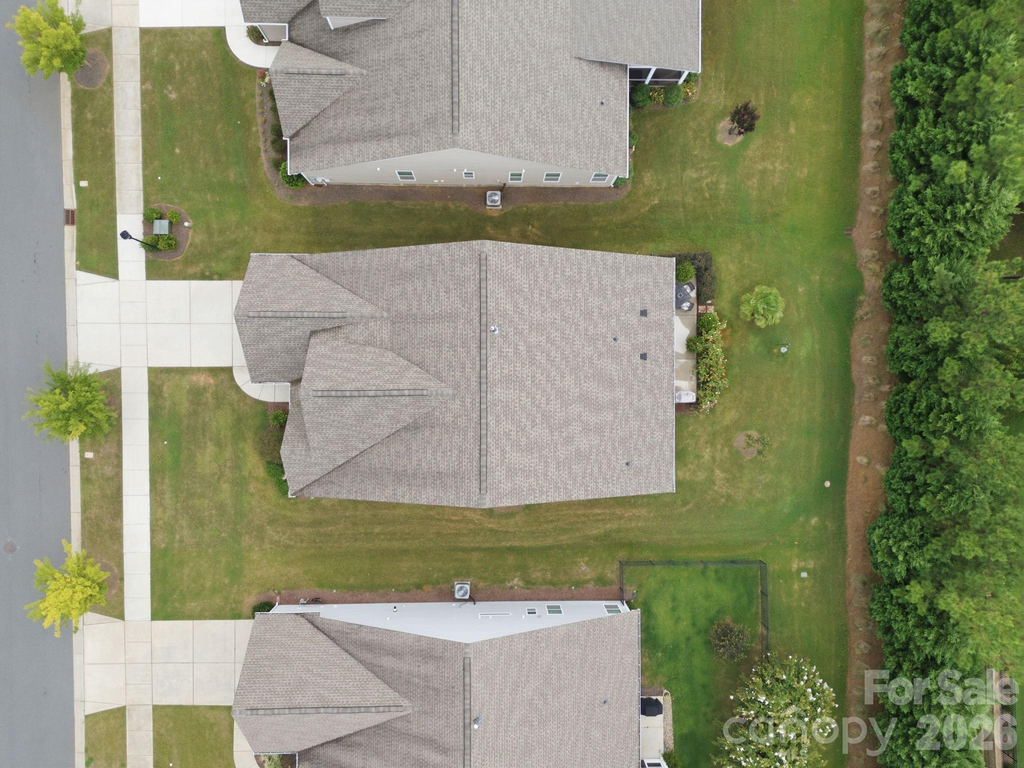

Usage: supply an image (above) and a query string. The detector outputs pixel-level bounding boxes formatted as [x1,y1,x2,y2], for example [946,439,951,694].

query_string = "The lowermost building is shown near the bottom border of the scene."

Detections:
[231,592,665,768]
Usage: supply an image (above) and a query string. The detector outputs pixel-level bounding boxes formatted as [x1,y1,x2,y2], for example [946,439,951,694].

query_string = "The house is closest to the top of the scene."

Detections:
[240,0,703,190]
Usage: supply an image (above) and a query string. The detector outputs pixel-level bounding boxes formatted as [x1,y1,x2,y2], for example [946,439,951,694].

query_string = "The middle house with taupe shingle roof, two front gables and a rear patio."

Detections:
[234,241,678,507]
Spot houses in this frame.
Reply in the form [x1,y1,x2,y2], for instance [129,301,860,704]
[231,592,665,768]
[240,0,703,190]
[234,241,678,507]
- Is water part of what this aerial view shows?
No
